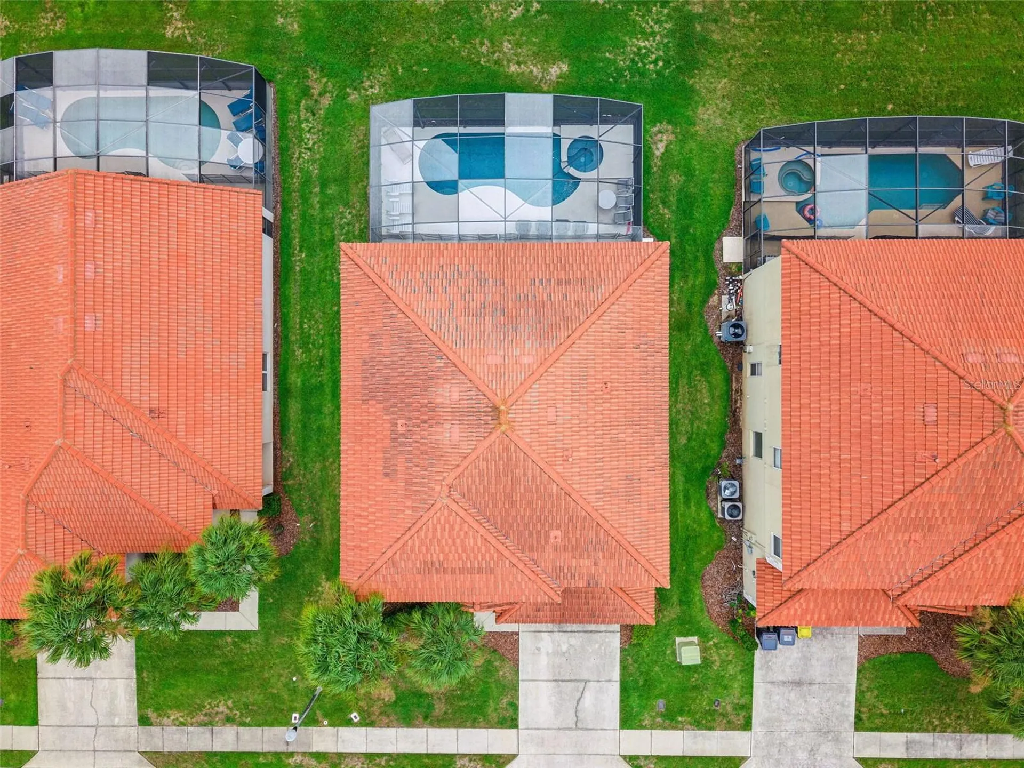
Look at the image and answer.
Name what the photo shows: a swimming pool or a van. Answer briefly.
swimming pool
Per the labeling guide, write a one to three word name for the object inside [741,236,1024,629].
house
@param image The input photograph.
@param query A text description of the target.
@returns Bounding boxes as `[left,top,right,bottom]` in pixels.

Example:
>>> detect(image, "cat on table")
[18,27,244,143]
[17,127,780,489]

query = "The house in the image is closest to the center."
[337,239,673,628]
